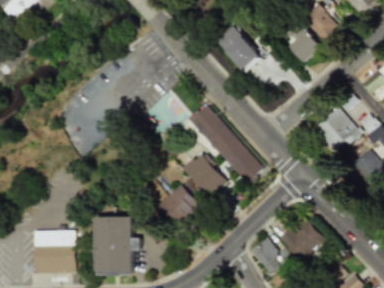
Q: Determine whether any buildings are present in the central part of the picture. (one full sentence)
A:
Yes, looking in the central part of the picture, one can make out a building.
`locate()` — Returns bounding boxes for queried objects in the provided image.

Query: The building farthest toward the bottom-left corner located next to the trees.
[34,229,76,273]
